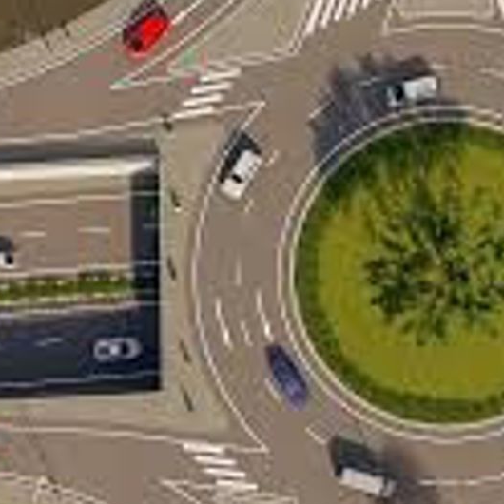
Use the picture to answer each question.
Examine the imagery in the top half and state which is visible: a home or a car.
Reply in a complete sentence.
The one visible in the top half is a car.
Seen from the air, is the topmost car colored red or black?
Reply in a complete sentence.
In this view, the topmost car is red.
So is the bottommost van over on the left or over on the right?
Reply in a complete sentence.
The bottommost van is on the right side of the image.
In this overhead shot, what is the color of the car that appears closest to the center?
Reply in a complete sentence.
The car that appears closest to the center looks white in the image.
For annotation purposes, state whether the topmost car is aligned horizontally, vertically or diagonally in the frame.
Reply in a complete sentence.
In this picture, the topmost car is oriented diagonally.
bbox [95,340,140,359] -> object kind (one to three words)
car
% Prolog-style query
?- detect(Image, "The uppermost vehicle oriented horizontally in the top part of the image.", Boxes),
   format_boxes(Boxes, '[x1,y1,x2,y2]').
[386,75,440,105]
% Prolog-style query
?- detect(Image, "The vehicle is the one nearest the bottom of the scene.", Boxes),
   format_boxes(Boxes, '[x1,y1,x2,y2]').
[335,455,393,493]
